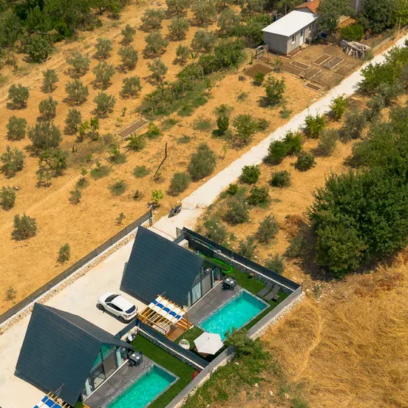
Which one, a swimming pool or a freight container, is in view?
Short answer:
swimming pool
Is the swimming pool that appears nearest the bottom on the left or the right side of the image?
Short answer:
left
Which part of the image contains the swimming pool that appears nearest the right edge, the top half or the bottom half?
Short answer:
bottom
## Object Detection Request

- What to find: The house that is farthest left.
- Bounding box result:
[7,302,139,408]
